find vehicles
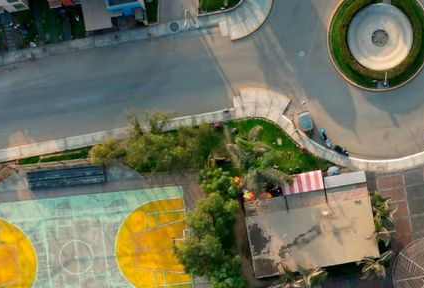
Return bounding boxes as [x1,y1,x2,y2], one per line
[335,145,350,155]
[295,109,313,139]
[319,128,331,147]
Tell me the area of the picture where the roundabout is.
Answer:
top right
